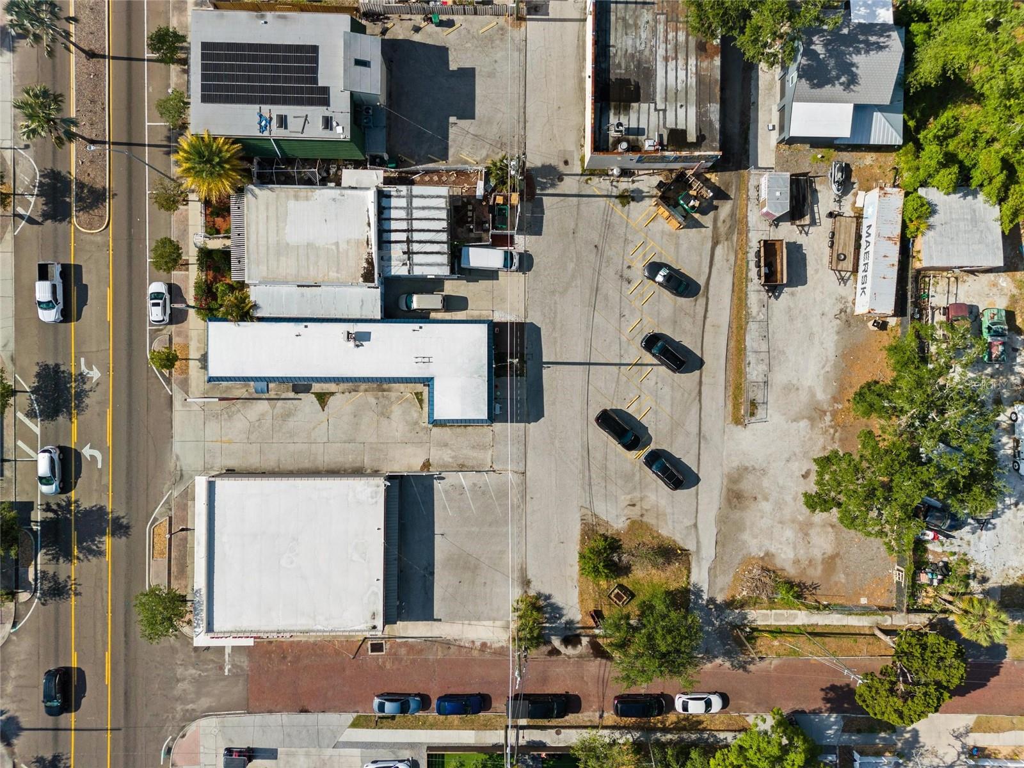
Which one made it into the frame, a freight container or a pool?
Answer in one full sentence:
Visible in the photo is a freight container.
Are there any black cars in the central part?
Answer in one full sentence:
Yes, the scene does show a black car in the central part.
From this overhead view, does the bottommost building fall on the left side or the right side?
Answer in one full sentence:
The bottommost building sits on the left side.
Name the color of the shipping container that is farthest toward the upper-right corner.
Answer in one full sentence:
The color of the shipping container that is farthest toward the upper-right corner is white.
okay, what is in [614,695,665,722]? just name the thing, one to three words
car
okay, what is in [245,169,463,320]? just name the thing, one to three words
building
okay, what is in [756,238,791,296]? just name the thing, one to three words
trailer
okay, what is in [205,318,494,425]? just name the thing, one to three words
building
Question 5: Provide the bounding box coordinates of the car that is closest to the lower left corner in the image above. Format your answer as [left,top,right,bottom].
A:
[41,667,69,719]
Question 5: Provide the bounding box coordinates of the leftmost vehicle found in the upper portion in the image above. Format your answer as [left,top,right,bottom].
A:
[34,260,64,321]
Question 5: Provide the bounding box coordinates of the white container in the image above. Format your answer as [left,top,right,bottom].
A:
[855,187,904,317]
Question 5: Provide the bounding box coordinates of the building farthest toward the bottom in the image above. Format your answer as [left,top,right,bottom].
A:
[194,473,402,645]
